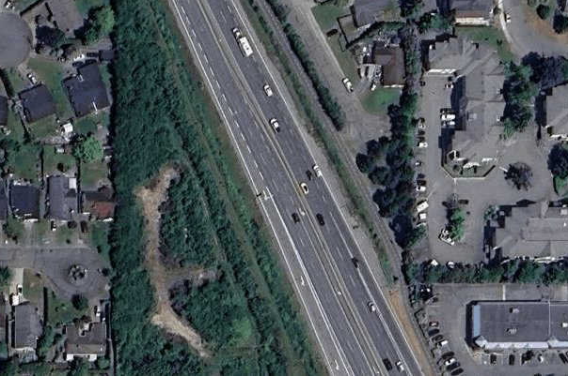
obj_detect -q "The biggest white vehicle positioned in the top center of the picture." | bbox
[235,32,255,56]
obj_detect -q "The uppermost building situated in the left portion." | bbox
[48,0,85,34]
